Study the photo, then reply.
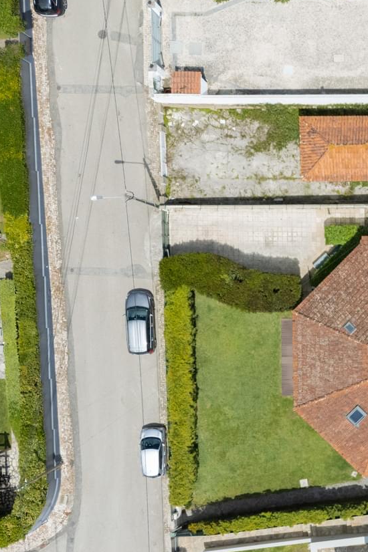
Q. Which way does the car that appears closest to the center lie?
from top to bottom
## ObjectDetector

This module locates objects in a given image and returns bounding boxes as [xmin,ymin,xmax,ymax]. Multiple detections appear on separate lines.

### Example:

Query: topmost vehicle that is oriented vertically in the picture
[123,288,157,353]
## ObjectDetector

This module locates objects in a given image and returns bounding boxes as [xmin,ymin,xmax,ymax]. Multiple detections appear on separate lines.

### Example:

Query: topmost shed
[171,71,213,94]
